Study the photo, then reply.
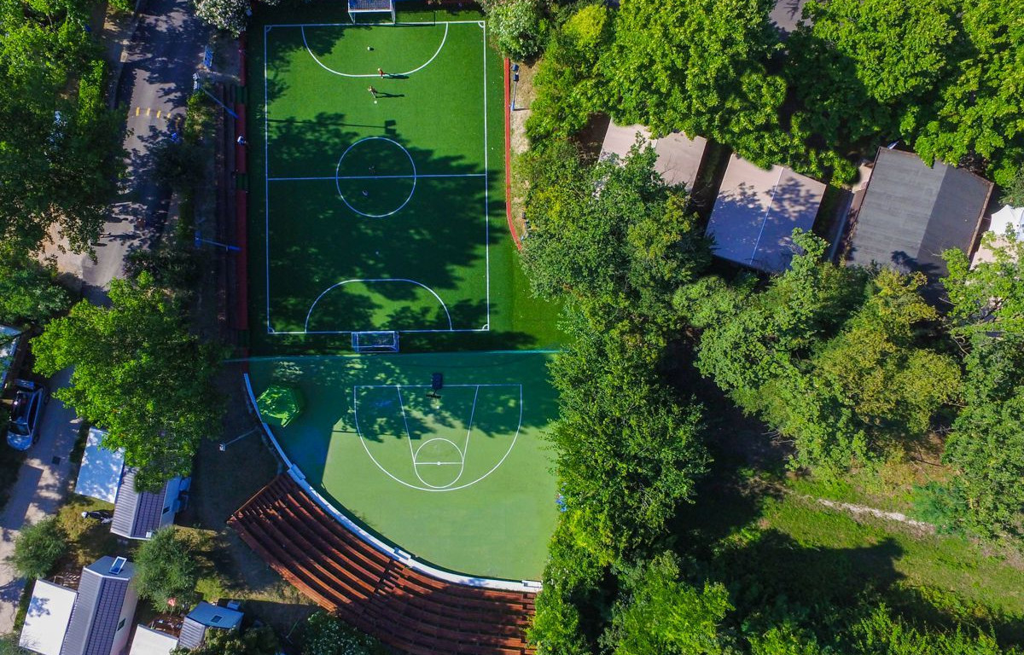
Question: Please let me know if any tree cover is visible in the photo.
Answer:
Yes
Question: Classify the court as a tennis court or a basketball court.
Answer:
basketball court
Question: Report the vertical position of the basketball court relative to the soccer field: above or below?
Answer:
below it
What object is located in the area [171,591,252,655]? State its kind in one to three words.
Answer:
house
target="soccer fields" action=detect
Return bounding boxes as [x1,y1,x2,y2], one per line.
[236,0,589,356]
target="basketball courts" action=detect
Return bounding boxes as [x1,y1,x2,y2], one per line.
[246,352,589,581]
